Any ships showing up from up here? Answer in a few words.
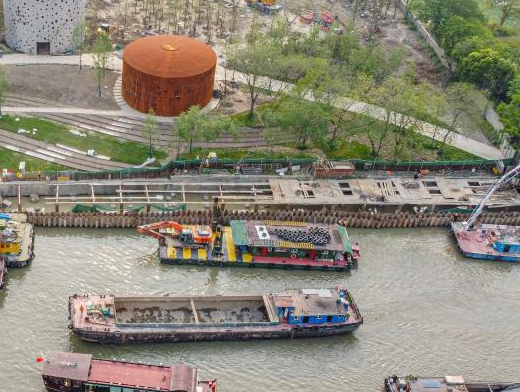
Yes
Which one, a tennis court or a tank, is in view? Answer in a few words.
tank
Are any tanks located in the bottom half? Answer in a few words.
No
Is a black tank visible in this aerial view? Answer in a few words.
No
